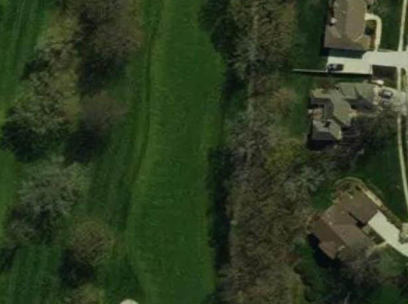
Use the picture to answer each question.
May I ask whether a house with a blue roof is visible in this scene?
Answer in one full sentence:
No, no house with a blue roof is visible in the view.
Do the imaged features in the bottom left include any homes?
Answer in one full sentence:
No, no home can be made out in the bottom left.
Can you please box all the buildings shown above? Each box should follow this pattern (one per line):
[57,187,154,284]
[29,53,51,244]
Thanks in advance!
[323,0,377,52]
[310,83,378,143]
[312,186,380,263]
